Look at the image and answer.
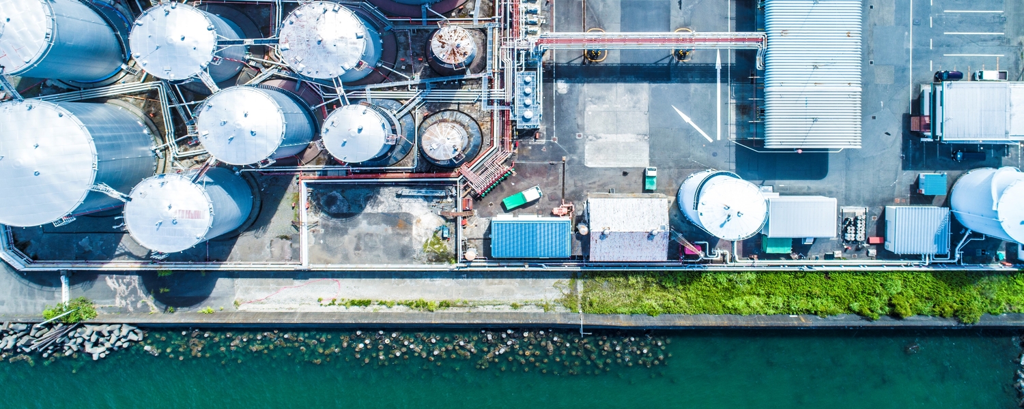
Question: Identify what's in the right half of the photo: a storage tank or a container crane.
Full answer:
What appears in the right half of the photo is a storage tank.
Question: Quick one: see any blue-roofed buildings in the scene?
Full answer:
Yes, there's a blue-roofed building here.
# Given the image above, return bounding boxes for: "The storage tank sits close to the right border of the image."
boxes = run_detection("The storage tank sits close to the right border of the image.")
[948,164,1024,246]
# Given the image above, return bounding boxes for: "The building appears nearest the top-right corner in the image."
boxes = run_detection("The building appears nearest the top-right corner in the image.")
[901,81,1024,144]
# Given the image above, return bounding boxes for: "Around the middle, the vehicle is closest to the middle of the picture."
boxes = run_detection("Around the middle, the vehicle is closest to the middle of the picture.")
[501,184,542,213]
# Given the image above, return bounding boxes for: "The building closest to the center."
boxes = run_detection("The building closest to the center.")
[488,213,571,258]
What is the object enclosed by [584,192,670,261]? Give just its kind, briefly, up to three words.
shed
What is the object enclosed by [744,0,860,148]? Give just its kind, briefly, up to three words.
warehouse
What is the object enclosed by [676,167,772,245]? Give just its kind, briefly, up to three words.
storage tank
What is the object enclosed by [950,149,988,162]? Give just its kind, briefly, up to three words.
vehicle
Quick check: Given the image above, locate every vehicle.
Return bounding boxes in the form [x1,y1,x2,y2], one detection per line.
[972,69,1007,81]
[932,69,964,81]
[950,149,988,162]
[501,184,542,213]
[643,167,656,191]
